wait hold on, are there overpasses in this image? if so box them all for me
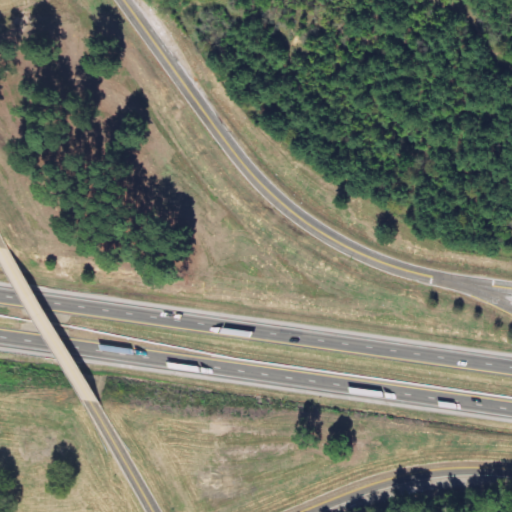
[0,240,100,410]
